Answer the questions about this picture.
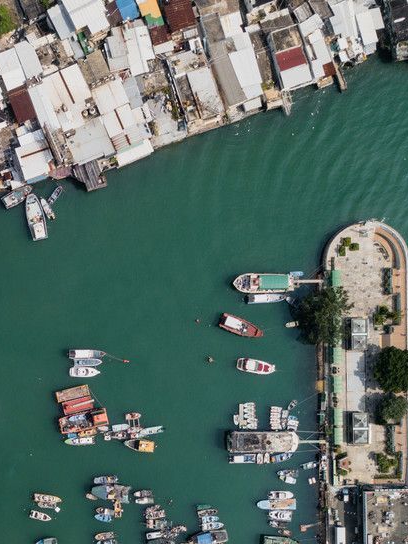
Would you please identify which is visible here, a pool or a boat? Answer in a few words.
boat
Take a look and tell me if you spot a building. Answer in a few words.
Yes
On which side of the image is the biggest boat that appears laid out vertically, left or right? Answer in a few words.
left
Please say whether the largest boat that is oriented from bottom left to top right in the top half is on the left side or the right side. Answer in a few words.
left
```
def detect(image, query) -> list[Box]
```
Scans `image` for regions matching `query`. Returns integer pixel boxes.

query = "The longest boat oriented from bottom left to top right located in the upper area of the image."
[1,185,33,209]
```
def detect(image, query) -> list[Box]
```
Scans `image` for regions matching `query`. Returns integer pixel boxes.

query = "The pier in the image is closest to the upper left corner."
[73,160,106,193]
